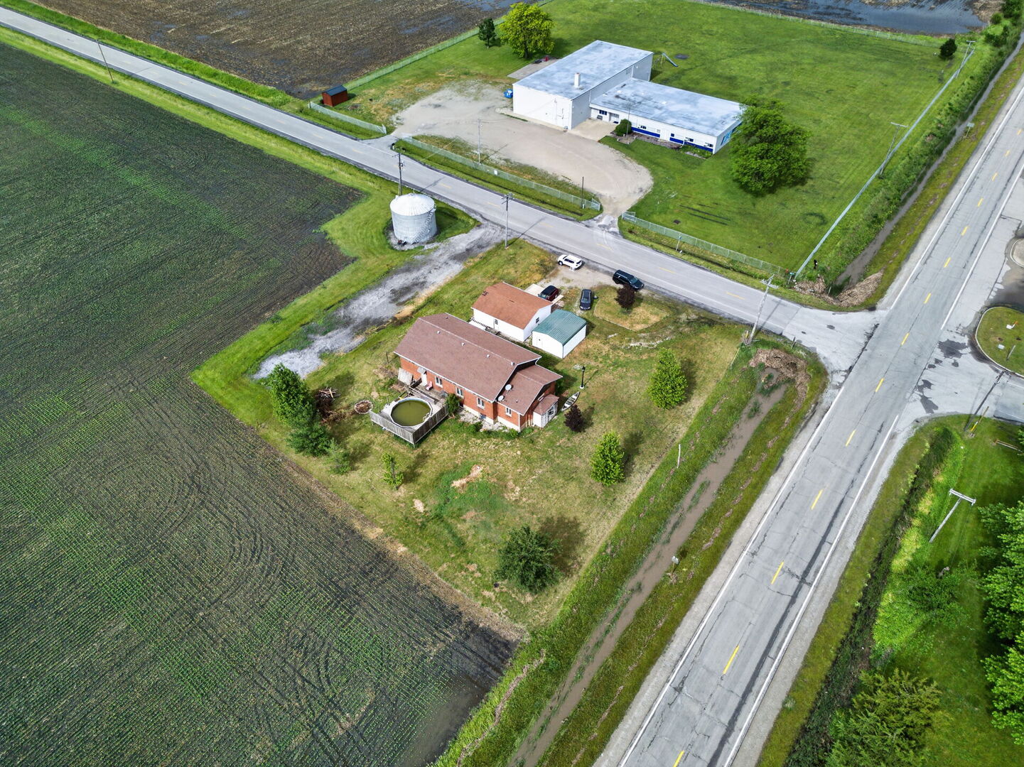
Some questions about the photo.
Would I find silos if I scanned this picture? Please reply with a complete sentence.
Yes, there's a silo here.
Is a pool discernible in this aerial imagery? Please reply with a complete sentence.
Yes, there's a pool here.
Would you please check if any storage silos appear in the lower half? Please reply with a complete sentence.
No, in the lower half there is no storage silo.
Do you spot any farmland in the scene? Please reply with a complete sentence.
Yes, the picture does contain farmland.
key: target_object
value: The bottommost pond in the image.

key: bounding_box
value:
[405,632,522,767]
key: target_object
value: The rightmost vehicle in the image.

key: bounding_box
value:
[613,266,644,288]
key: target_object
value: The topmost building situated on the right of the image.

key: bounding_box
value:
[512,39,745,152]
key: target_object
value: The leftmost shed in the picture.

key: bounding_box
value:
[321,85,348,106]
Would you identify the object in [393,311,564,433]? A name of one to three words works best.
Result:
house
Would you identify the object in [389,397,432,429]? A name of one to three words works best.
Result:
swimming pool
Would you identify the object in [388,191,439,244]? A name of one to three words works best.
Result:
silo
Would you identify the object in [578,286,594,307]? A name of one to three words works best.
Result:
car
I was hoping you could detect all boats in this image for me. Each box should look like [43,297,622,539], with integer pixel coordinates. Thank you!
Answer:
[562,390,580,411]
